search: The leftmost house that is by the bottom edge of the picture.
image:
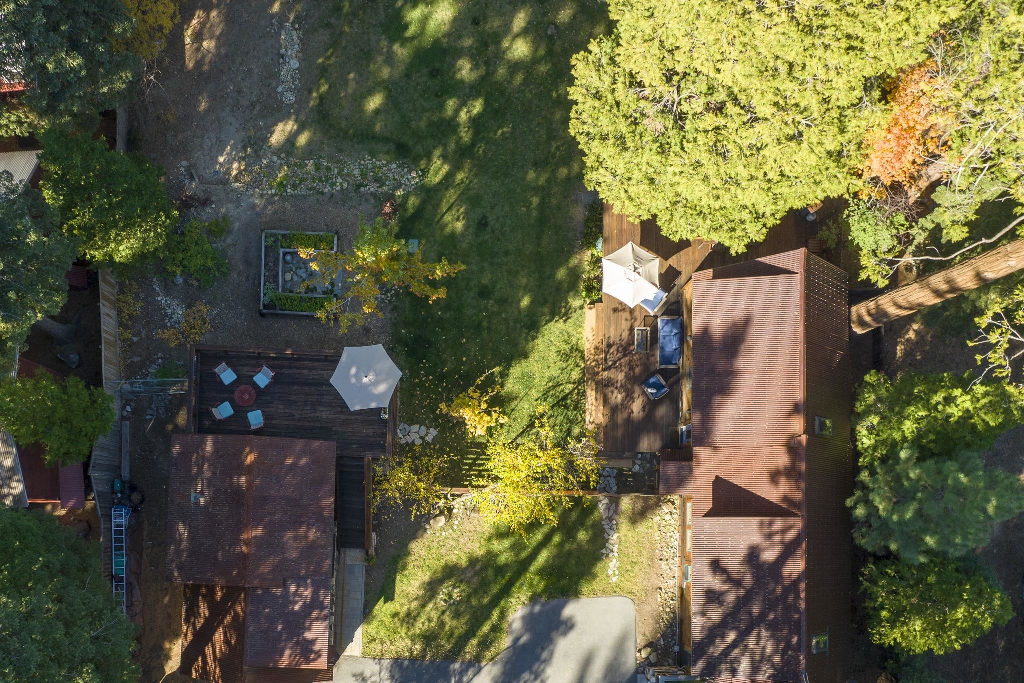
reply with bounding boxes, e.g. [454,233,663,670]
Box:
[164,434,338,683]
